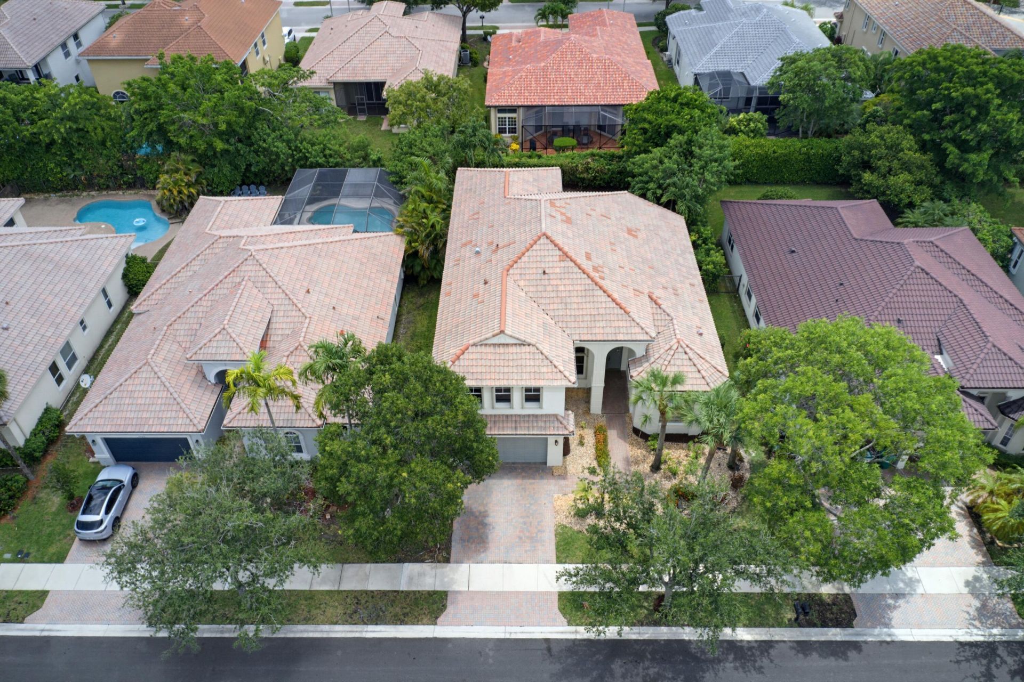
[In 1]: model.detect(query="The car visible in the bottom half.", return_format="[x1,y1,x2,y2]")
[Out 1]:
[65,466,137,544]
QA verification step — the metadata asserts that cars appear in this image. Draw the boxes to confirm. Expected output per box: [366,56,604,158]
[65,466,137,544]
[282,25,297,49]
